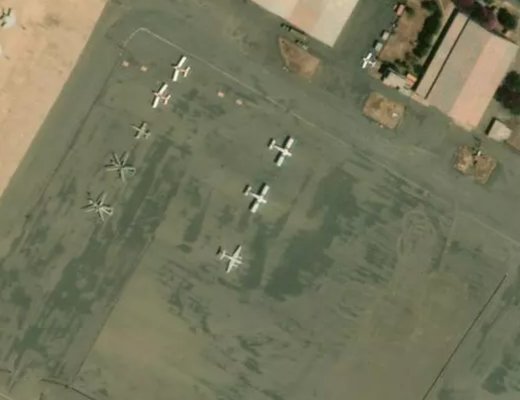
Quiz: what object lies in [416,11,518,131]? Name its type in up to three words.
hangar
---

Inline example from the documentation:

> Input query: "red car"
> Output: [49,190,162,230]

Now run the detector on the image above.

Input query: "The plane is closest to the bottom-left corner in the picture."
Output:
[219,245,243,273]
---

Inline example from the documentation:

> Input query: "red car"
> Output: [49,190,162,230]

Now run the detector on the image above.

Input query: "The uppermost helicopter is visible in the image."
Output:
[106,153,136,182]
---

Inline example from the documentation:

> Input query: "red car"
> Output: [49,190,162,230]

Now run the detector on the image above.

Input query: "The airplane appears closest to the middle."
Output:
[245,185,270,214]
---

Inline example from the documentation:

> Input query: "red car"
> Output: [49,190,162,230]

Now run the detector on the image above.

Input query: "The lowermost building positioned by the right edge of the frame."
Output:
[489,119,512,142]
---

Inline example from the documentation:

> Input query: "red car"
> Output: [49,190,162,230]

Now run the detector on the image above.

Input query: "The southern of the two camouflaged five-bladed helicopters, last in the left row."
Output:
[84,193,114,222]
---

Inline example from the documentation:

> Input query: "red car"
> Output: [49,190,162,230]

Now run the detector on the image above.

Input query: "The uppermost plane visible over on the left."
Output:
[172,56,189,82]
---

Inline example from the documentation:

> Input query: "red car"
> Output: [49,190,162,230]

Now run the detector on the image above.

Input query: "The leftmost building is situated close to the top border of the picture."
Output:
[251,0,359,47]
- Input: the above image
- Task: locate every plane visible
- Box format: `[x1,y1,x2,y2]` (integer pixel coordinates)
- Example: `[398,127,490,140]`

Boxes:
[245,185,270,214]
[132,122,151,139]
[271,137,294,167]
[363,54,375,68]
[153,84,170,109]
[219,245,243,273]
[172,56,189,82]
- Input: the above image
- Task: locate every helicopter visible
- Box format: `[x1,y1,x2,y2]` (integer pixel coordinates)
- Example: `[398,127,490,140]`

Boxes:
[84,193,114,222]
[106,153,136,182]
